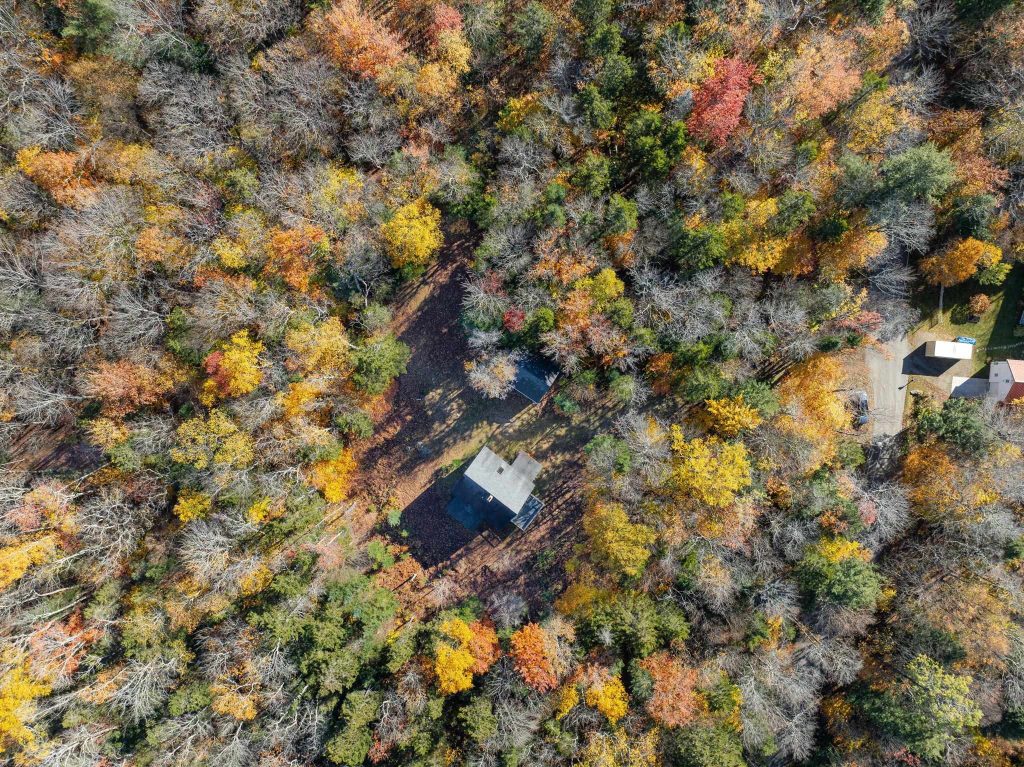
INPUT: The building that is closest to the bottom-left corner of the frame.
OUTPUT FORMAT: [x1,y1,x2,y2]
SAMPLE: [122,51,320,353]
[439,445,545,533]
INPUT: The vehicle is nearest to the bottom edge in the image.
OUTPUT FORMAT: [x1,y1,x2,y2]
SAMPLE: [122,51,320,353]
[854,393,871,424]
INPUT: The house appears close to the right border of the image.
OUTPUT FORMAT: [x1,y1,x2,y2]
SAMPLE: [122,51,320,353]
[989,359,1024,403]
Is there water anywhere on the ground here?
No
